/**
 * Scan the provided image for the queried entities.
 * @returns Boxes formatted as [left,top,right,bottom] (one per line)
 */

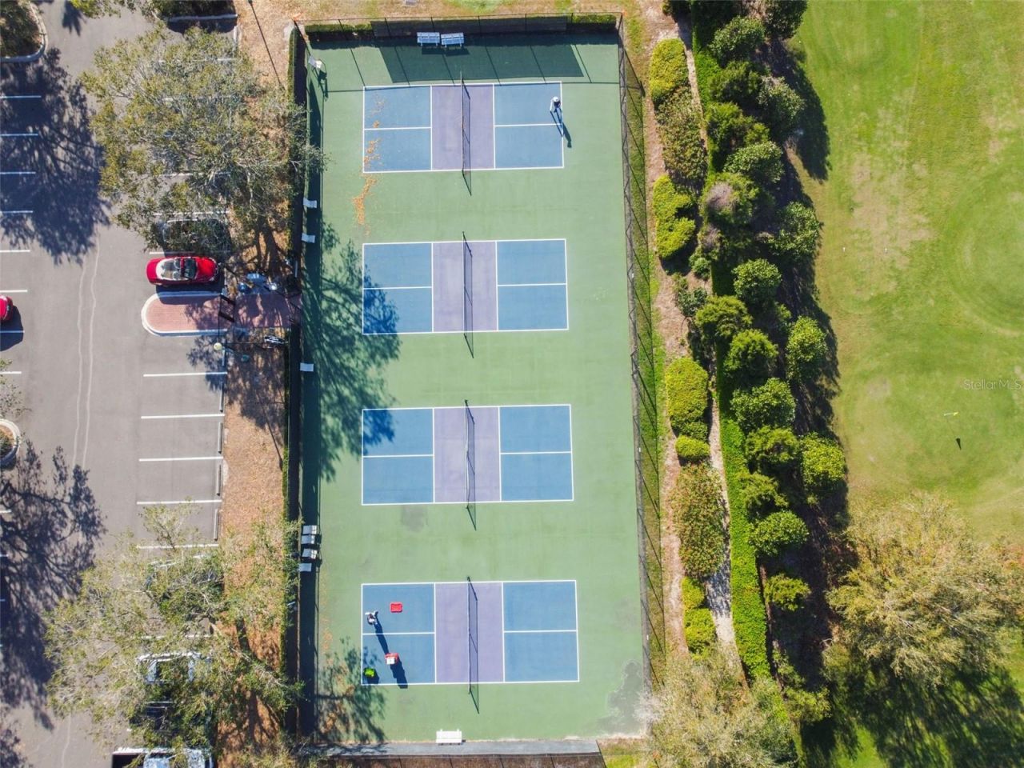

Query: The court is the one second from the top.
[363,238,568,335]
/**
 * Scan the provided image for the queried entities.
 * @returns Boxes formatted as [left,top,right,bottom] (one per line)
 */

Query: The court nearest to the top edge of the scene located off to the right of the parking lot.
[363,81,564,173]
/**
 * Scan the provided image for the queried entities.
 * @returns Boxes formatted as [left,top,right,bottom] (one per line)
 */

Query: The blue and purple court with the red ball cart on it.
[362,579,579,685]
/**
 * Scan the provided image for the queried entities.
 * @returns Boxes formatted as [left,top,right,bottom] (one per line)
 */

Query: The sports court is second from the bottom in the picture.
[362,404,574,505]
